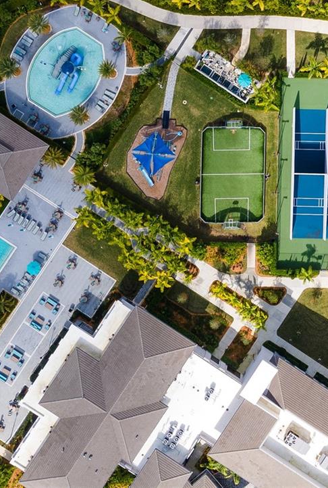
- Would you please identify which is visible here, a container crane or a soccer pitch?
soccer pitch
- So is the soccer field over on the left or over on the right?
right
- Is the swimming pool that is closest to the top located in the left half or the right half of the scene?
left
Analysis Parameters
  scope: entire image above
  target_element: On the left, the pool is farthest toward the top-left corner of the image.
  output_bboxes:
[26,27,104,116]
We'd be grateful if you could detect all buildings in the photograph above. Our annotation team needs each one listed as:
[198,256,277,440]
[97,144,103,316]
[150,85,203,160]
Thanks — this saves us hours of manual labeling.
[0,114,49,201]
[11,300,250,488]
